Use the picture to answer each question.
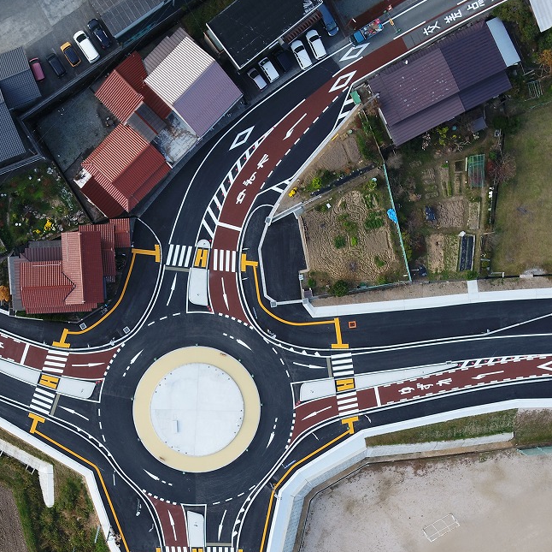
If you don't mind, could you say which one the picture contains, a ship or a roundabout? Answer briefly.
roundabout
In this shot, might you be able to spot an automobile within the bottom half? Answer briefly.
No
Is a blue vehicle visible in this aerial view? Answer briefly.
Yes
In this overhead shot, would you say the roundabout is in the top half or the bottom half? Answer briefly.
bottom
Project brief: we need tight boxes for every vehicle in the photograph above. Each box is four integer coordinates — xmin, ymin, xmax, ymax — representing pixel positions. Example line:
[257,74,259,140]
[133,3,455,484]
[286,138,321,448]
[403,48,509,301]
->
[289,40,313,74]
[28,57,45,85]
[258,58,280,85]
[246,67,269,93]
[87,16,112,53]
[61,42,80,70]
[349,18,385,46]
[304,29,327,63]
[73,28,101,67]
[317,1,340,39]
